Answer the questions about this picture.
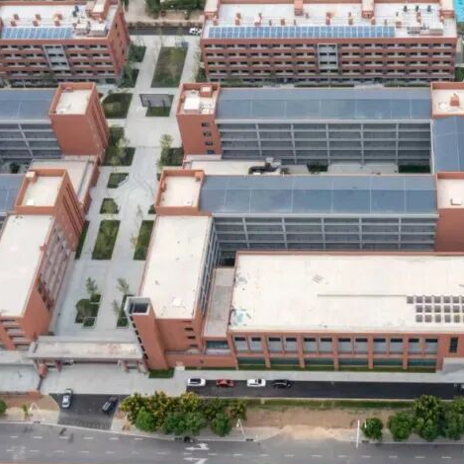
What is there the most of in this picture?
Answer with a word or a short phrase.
buildings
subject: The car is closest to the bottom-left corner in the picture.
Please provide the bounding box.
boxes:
[58,388,73,406]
